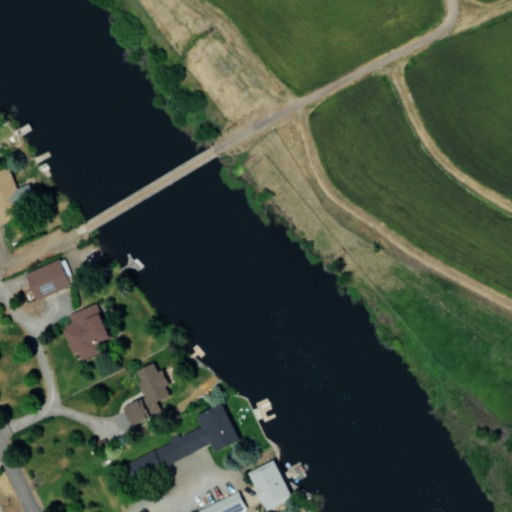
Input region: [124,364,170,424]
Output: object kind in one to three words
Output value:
house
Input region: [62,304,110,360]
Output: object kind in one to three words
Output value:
house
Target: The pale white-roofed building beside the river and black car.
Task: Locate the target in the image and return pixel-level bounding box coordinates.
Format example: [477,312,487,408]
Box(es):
[248,460,292,510]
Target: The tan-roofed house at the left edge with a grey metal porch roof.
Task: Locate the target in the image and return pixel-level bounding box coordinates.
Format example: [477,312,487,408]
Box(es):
[0,170,33,223]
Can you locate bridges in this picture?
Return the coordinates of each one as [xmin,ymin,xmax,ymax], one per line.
[76,148,220,237]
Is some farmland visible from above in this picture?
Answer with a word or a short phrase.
Yes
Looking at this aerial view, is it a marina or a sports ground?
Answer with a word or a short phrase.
marina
